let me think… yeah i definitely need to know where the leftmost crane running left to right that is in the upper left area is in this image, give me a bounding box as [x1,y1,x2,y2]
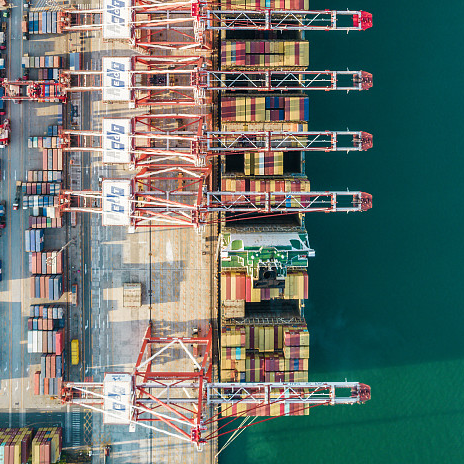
[0,73,69,108]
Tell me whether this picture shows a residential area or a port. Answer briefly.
port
